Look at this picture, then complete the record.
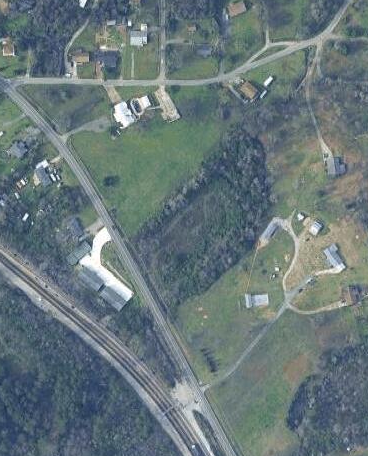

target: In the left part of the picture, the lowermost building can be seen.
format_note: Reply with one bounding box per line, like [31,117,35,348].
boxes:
[99,284,128,312]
